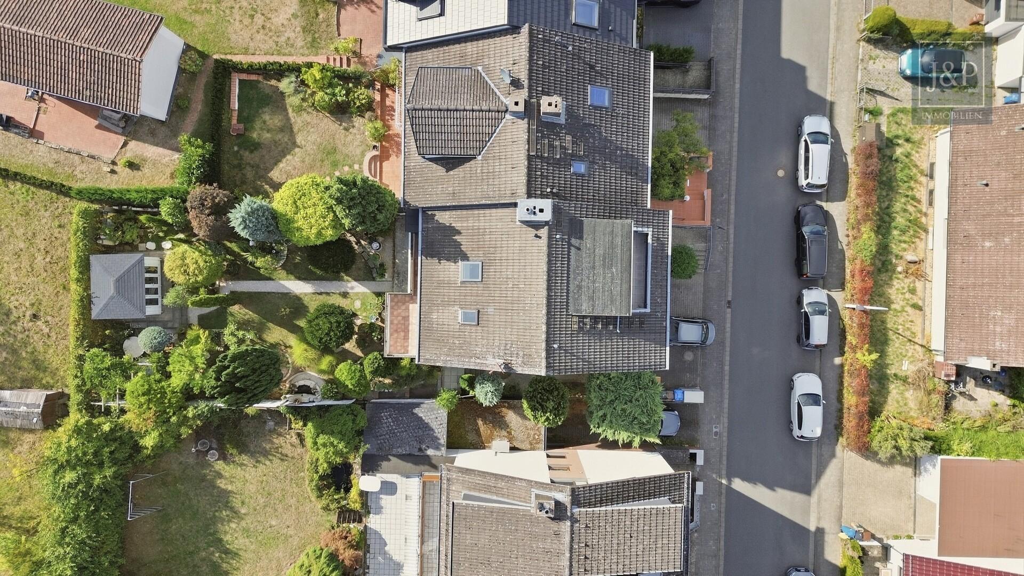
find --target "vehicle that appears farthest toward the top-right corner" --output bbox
[897,47,964,82]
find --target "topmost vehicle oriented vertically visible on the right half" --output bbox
[796,116,834,192]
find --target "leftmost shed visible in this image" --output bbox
[0,390,71,430]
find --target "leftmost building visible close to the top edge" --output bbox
[0,0,185,122]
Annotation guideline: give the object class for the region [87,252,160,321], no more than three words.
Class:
building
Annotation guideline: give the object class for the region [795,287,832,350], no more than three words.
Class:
car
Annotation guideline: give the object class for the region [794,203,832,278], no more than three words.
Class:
car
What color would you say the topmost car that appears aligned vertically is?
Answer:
white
